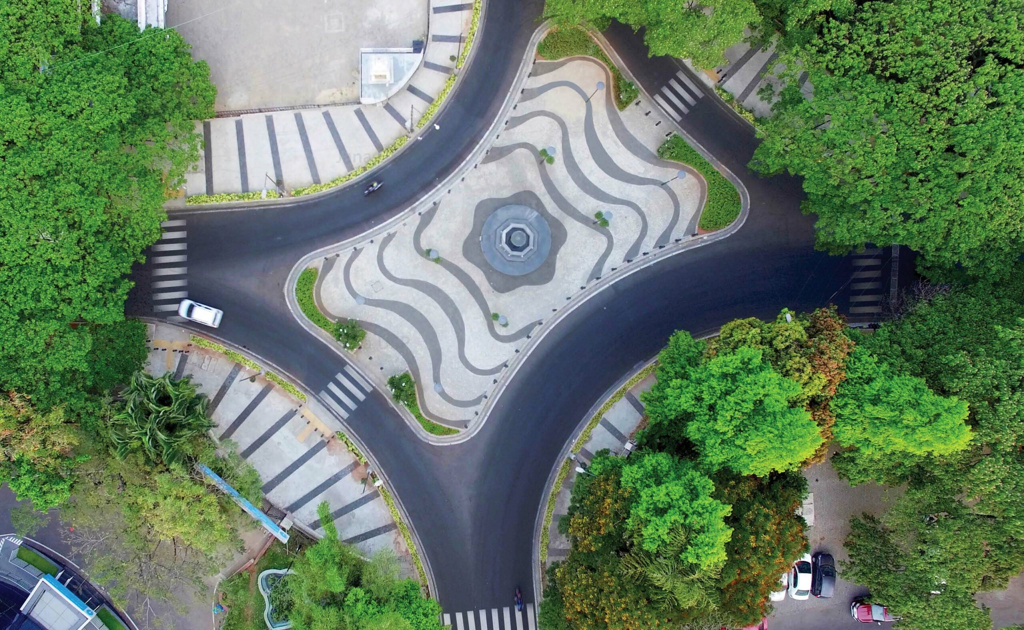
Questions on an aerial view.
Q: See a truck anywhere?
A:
No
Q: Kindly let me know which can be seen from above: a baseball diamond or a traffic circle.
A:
traffic circle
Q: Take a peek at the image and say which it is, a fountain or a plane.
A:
fountain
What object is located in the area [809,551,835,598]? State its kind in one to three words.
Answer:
car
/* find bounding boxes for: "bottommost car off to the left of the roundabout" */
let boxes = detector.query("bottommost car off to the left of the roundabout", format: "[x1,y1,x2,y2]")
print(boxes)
[178,300,224,328]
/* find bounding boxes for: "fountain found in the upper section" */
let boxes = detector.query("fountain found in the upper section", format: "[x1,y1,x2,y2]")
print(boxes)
[480,204,552,275]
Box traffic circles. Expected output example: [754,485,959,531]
[284,14,750,446]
